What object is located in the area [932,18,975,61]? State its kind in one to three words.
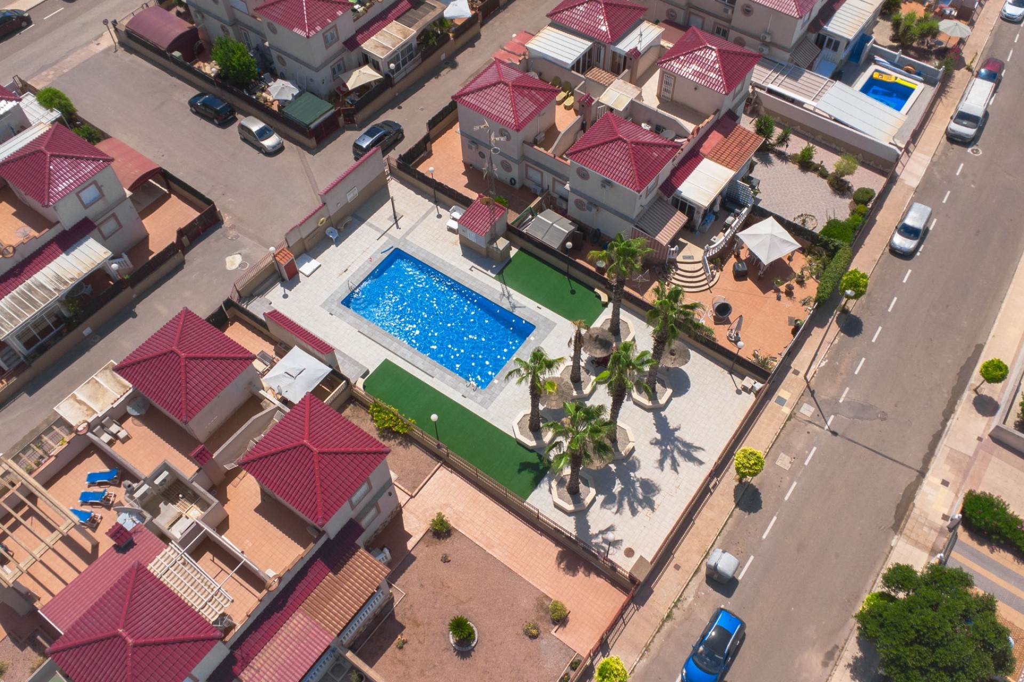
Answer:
umbrella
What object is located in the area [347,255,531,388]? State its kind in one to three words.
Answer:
swimming pool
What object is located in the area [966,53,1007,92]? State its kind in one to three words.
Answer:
car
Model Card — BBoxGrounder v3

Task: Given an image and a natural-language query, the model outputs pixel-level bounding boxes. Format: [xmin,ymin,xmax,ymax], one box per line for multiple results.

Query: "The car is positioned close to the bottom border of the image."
[670,602,744,682]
